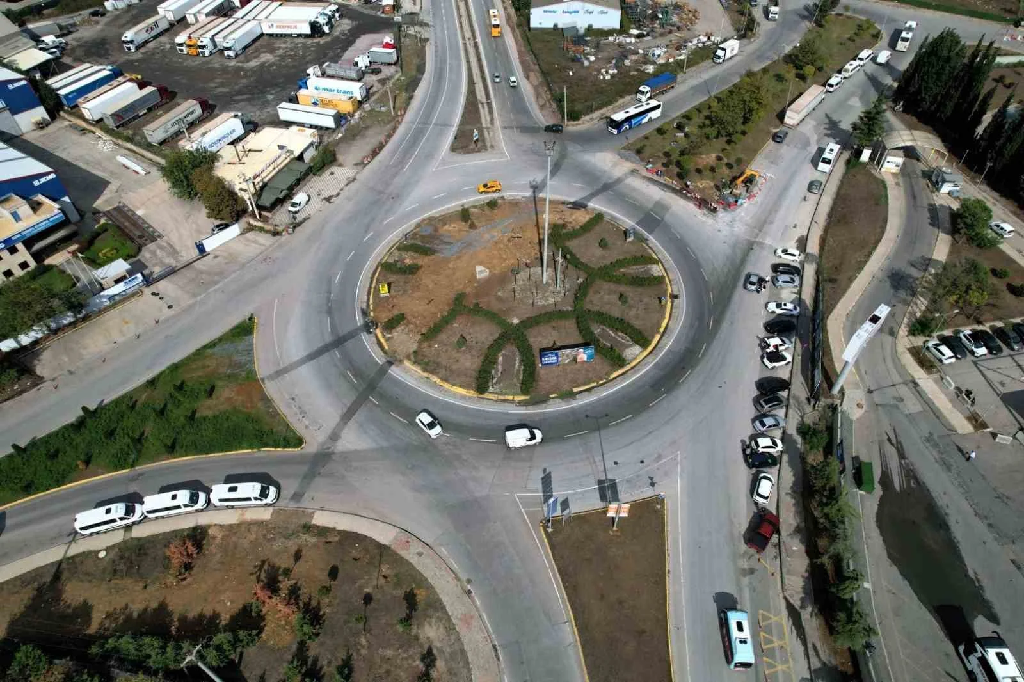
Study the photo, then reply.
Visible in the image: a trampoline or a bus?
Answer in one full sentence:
I can see a bus in this picture.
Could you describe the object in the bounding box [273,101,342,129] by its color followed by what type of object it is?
white trailer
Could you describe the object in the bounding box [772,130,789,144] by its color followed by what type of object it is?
gray car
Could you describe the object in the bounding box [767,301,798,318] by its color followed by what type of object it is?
white car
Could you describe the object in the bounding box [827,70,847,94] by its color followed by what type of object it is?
white vehicle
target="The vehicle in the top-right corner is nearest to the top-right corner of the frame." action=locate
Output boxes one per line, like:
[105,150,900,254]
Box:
[897,23,916,46]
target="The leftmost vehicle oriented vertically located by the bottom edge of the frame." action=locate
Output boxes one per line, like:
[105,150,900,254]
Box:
[723,602,753,674]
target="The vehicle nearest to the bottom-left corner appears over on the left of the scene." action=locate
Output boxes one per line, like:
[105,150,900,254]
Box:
[73,506,144,539]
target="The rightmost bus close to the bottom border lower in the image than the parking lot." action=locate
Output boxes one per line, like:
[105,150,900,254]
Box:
[963,639,1022,682]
